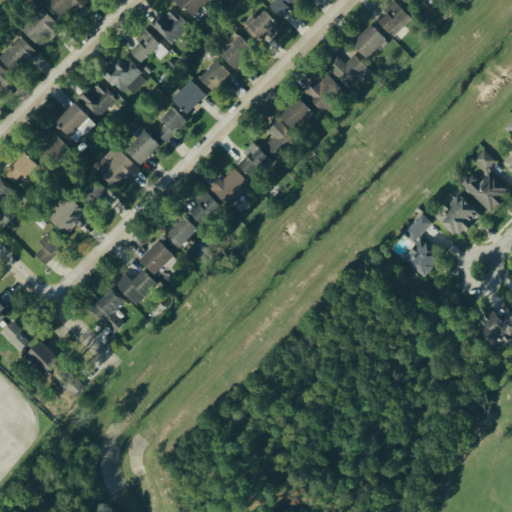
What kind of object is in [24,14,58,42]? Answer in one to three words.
house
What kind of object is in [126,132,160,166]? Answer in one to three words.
house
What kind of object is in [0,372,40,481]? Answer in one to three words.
baseball field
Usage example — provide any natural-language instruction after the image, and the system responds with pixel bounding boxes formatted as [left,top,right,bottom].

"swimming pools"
[161,295,175,307]
[394,240,408,255]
